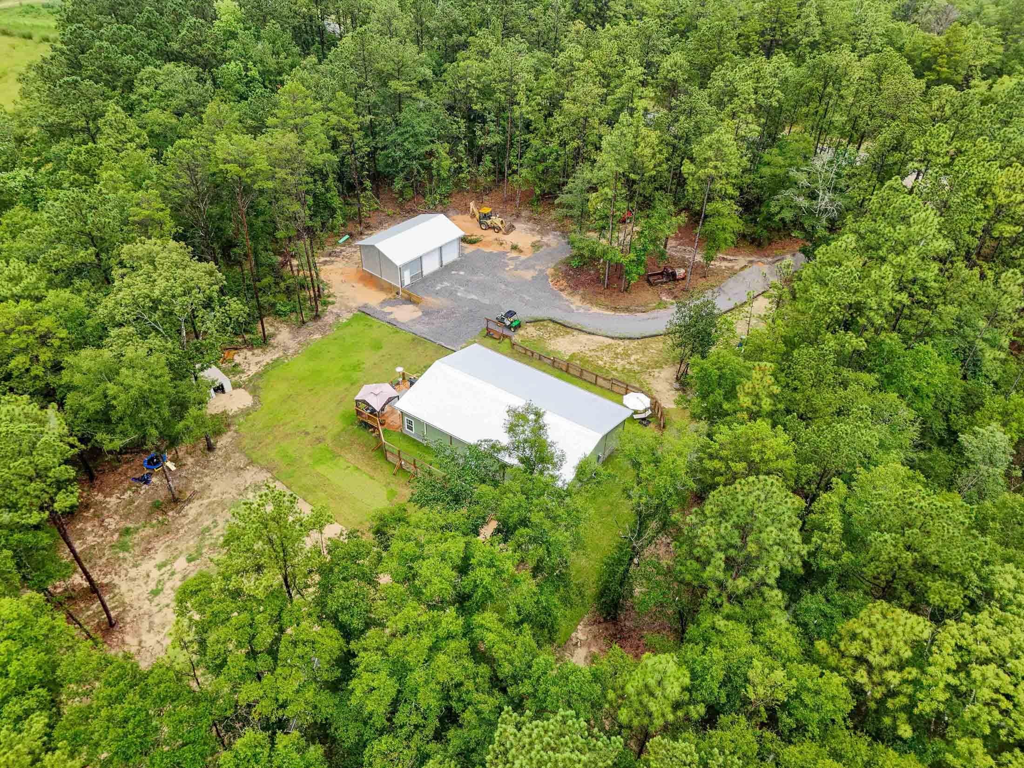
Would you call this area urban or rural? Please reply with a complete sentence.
The area is rural.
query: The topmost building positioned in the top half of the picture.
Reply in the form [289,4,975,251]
[355,214,465,295]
